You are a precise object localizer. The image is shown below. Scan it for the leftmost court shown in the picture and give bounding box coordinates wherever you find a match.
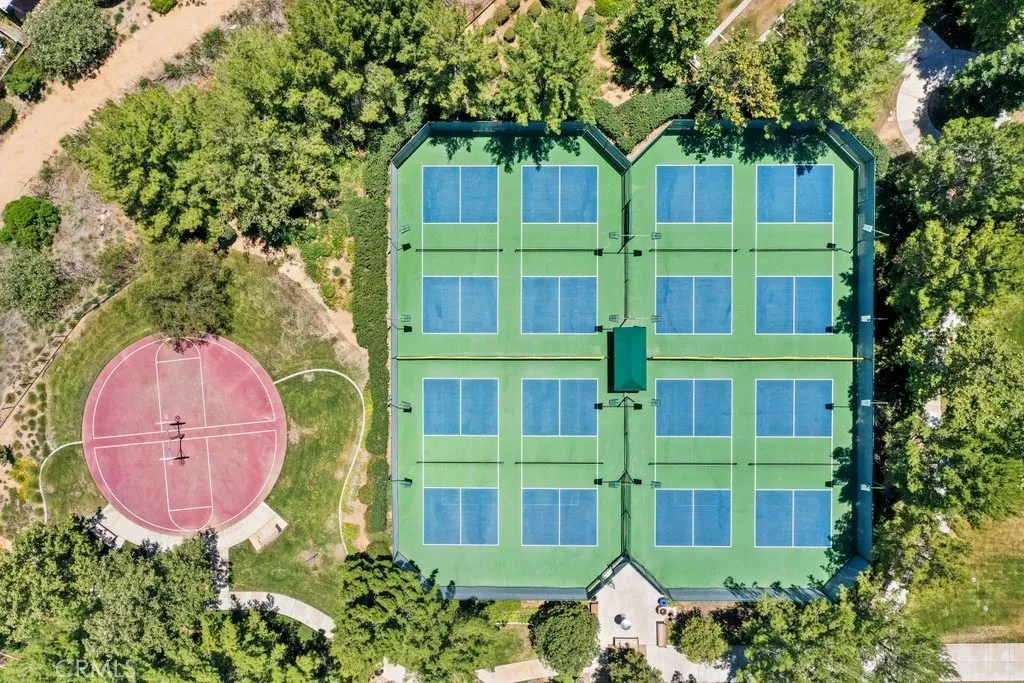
[83,334,286,537]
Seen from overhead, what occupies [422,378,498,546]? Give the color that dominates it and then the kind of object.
blue sports court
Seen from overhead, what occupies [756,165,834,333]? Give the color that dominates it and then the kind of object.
blue sports court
